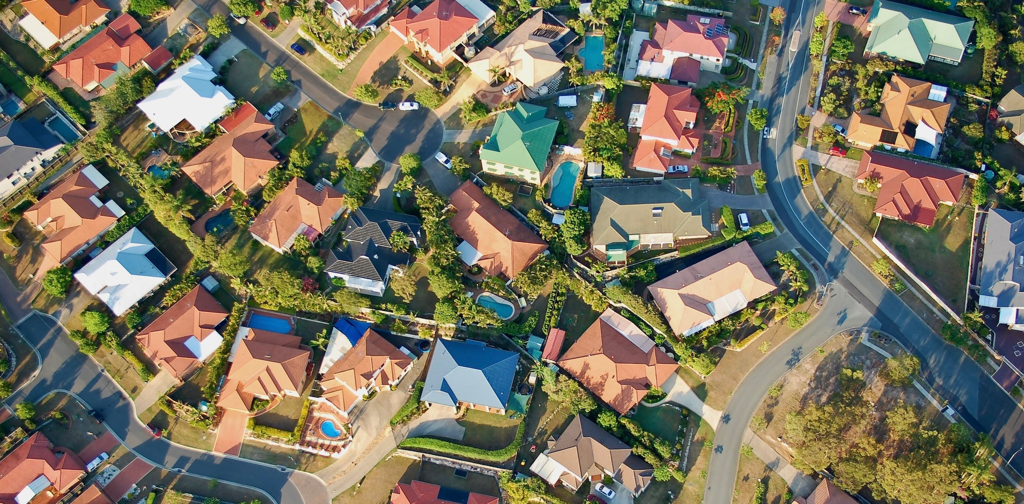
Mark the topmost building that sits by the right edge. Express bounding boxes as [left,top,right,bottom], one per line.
[863,0,974,69]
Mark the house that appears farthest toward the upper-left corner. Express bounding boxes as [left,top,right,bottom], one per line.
[19,0,112,51]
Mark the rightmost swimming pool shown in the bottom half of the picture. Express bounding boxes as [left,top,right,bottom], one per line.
[474,291,518,323]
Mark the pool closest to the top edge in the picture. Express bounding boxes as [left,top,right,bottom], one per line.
[576,34,606,72]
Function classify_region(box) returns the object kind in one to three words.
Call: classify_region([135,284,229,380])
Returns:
house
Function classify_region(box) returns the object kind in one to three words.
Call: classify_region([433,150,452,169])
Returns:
vehicle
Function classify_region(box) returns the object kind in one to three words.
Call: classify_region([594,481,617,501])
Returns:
car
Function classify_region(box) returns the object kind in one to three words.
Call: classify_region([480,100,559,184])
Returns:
building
